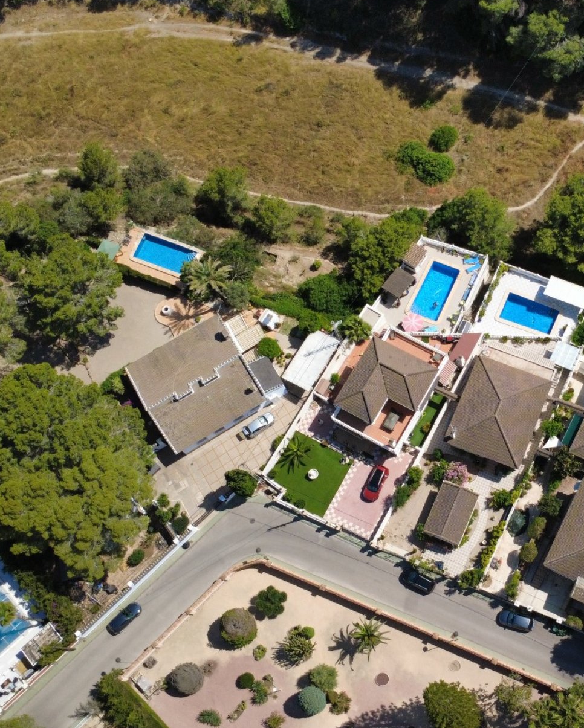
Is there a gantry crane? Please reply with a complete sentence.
No, no gantry crane is visible in the scene.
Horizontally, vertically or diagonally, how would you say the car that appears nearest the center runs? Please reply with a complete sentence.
The car that appears nearest the center is oriented diagonally.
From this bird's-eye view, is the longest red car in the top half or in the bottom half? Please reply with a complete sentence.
It is in the bottom half that the longest red car appears.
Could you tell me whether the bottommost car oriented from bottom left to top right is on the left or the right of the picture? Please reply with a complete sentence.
It is on the left.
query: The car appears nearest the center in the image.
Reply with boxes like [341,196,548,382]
[237,412,278,443]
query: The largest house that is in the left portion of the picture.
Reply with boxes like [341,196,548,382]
[124,312,266,456]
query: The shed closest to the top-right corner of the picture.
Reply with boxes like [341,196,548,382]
[403,246,428,278]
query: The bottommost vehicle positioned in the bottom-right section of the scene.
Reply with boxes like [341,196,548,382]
[494,607,538,637]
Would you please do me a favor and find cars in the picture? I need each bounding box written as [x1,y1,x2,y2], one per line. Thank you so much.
[361,462,391,505]
[101,599,147,641]
[494,607,538,637]
[237,412,278,443]
[397,567,440,598]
